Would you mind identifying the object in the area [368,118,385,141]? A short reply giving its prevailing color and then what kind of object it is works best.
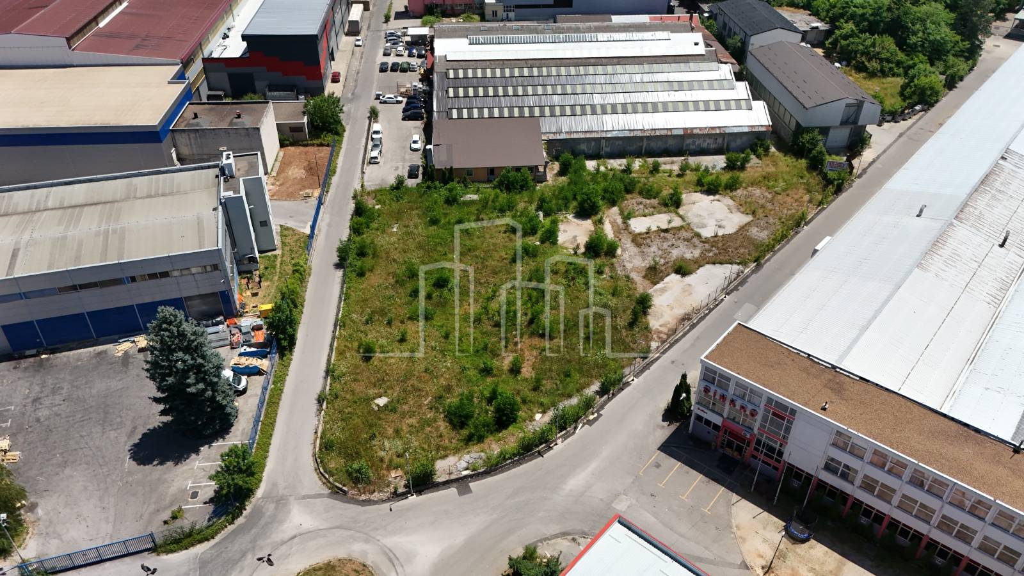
white vehicle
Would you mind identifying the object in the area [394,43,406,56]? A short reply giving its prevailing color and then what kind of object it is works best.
white vehicle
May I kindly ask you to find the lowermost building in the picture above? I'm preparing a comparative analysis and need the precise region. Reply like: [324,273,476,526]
[565,515,716,576]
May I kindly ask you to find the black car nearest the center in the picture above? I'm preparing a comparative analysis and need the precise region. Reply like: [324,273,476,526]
[406,164,420,178]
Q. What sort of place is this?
industrial area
